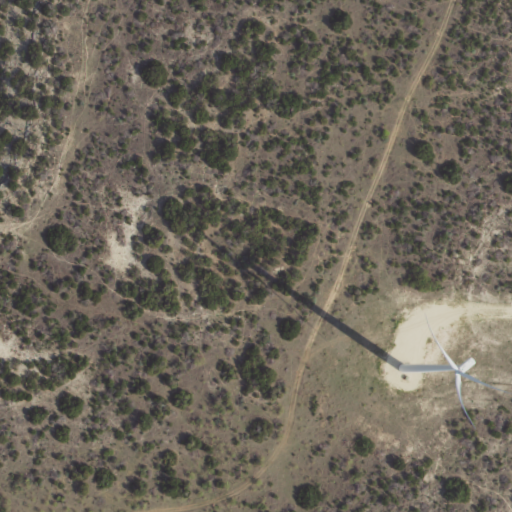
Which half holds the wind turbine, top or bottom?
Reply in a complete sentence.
The wind turbine sits in the bottom half of the picture.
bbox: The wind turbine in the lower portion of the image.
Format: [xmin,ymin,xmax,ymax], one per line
[396,312,512,429]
